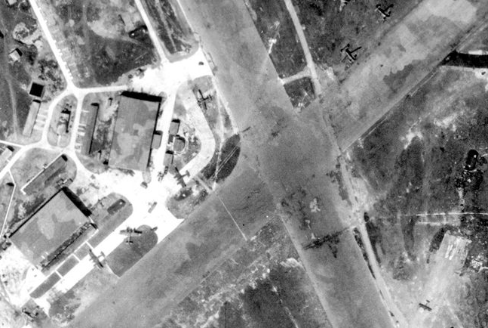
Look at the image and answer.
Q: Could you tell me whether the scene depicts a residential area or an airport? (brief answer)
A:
airport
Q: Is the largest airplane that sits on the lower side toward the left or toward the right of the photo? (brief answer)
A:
right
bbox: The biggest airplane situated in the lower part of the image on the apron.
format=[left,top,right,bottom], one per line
[306,231,339,255]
